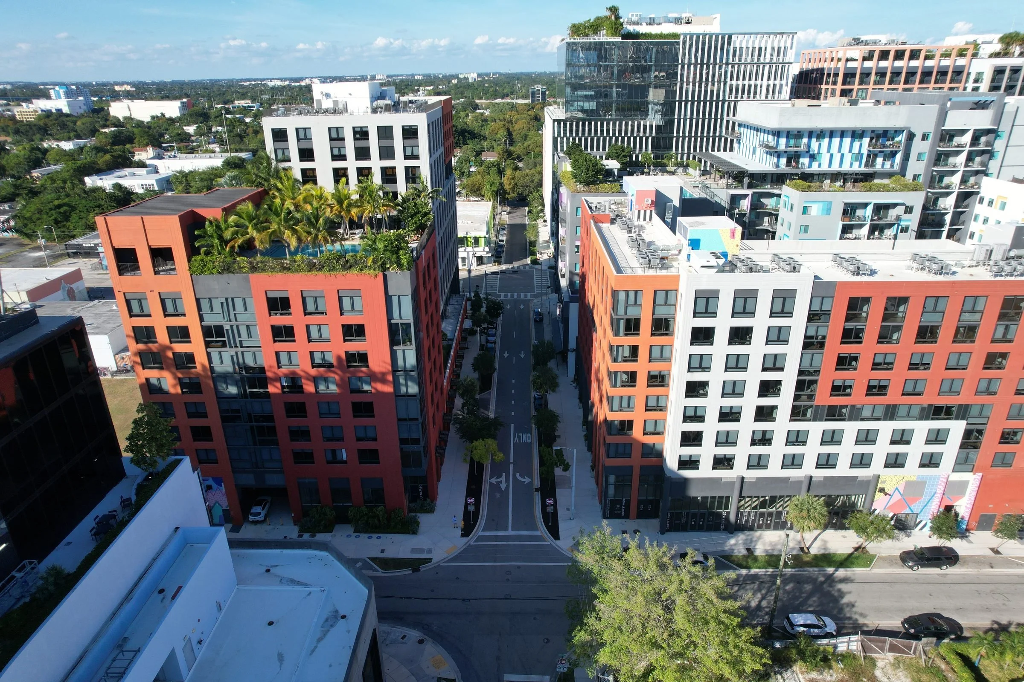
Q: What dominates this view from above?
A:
buildings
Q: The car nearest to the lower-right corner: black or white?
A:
black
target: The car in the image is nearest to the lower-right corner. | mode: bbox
[906,614,966,638]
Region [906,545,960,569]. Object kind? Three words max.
car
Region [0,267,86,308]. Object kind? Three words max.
building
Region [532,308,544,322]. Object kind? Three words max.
vehicle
